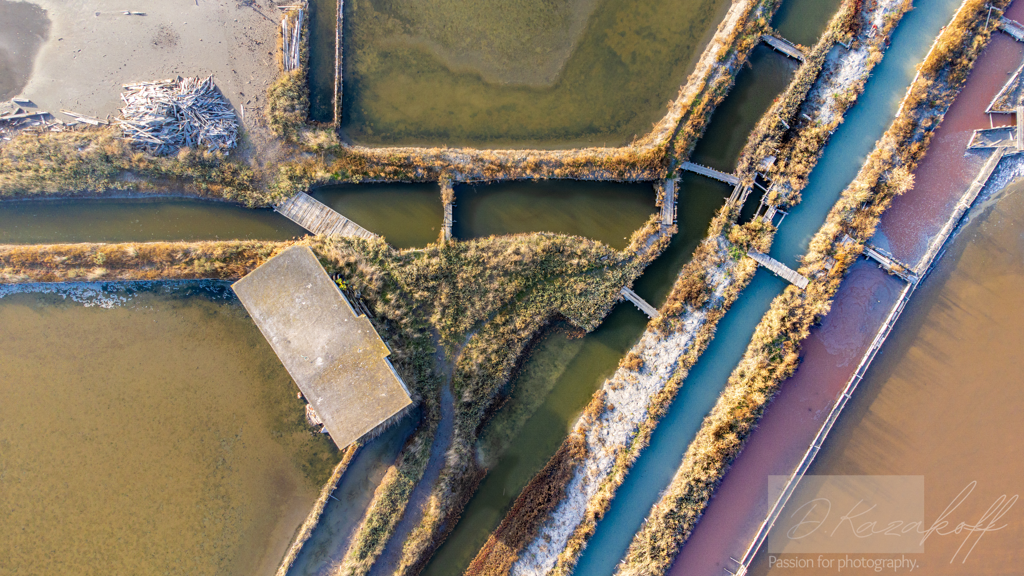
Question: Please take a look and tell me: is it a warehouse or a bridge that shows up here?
bridge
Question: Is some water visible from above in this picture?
Yes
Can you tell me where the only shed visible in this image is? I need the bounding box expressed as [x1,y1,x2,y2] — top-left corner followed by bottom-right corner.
[231,244,413,450]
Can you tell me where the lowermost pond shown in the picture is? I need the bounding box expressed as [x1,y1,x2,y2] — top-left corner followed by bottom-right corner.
[0,279,359,576]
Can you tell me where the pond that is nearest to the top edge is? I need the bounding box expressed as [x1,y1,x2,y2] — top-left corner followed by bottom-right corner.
[342,0,731,151]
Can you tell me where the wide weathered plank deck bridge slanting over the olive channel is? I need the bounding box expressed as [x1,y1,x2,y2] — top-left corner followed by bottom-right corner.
[271,191,377,257]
